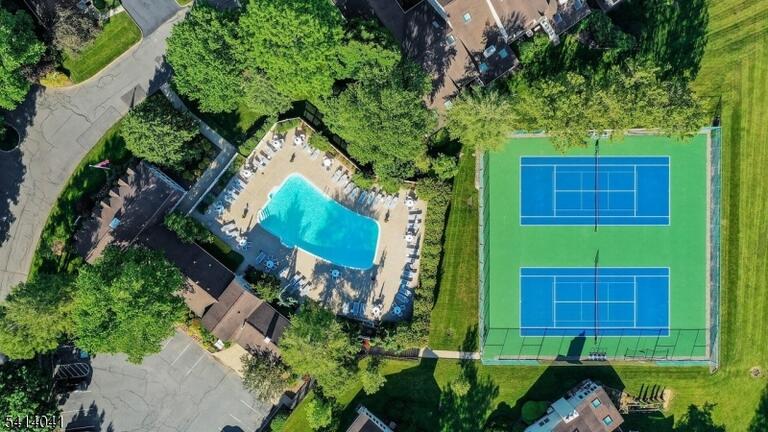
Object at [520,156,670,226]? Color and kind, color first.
blue tennis court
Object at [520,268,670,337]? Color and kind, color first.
blue tennis court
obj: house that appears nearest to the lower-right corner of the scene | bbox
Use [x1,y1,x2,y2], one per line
[526,382,625,432]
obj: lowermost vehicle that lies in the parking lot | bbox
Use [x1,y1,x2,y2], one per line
[58,375,90,391]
